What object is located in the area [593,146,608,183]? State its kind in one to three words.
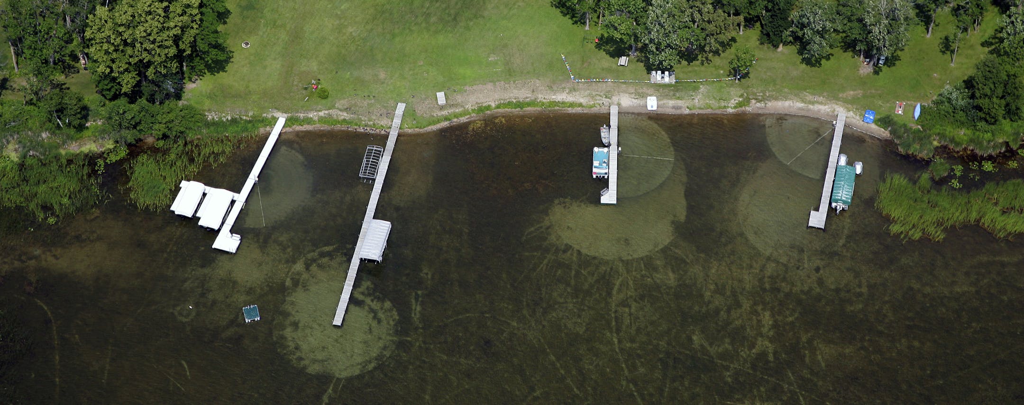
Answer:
boat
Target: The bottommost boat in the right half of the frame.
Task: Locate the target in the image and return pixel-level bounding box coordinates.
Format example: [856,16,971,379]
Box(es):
[831,202,848,215]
